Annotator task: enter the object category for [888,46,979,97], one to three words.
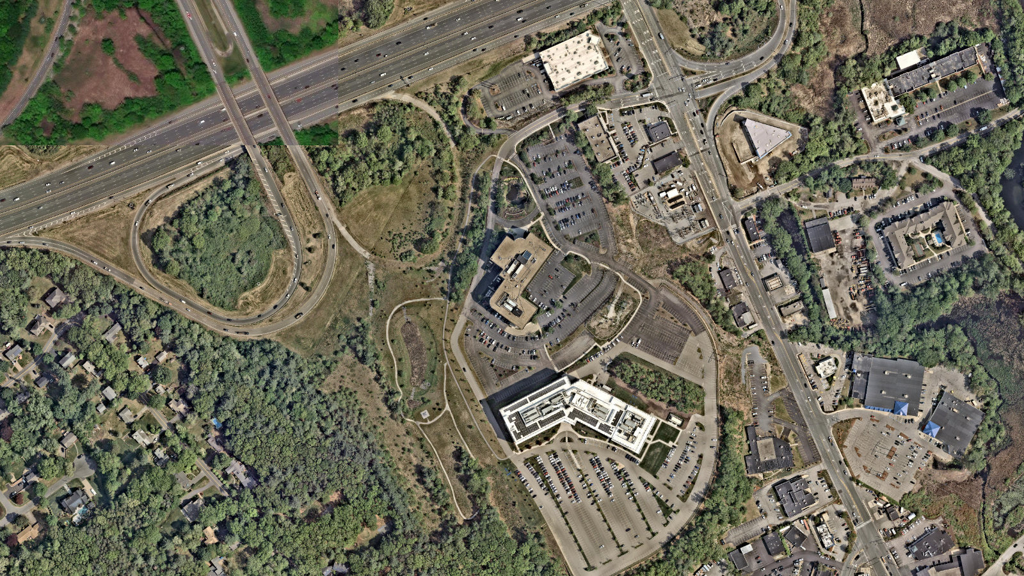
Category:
building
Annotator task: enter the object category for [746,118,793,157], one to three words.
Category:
building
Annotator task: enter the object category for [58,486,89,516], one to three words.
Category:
house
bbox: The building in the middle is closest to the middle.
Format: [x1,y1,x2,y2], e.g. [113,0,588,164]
[490,232,554,329]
